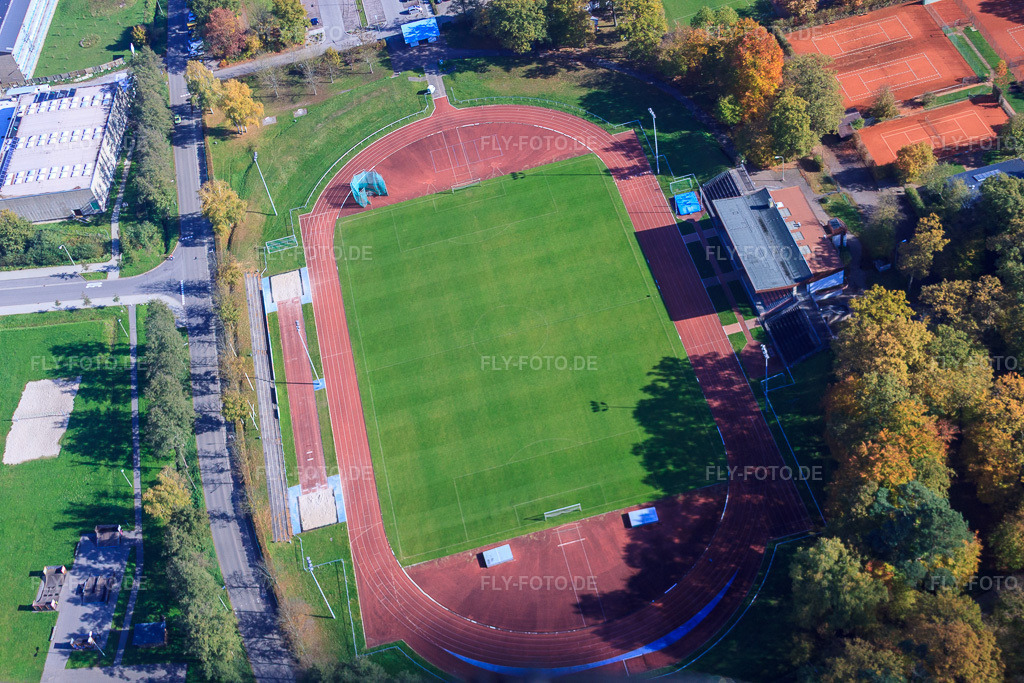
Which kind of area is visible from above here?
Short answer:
sports ground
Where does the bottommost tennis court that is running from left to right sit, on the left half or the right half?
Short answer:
right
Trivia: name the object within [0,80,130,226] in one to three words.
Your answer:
building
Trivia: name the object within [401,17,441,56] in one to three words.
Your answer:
building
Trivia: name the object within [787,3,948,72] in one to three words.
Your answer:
tennis court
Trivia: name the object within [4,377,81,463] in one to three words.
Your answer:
sports court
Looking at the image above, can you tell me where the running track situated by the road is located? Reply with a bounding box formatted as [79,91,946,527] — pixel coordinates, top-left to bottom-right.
[299,97,815,683]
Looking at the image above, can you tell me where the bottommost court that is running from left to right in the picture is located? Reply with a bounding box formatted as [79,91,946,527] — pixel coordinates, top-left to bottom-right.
[861,95,1008,168]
